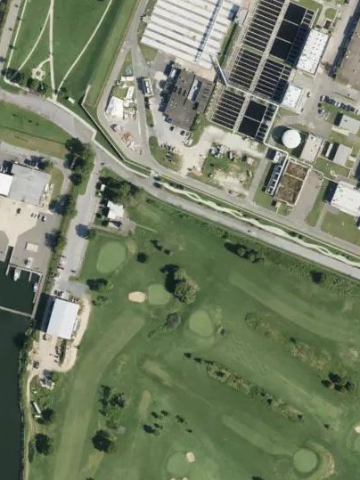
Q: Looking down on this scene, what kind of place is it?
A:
golf course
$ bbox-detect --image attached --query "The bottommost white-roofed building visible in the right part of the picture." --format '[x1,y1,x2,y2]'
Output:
[332,183,360,216]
